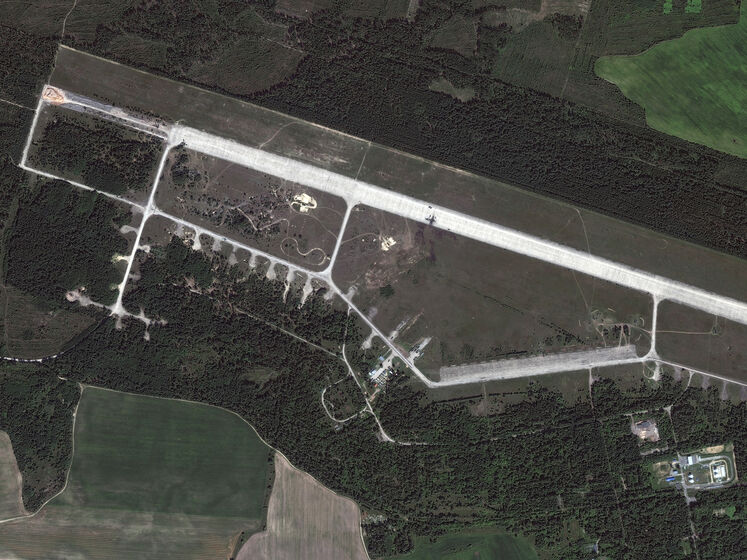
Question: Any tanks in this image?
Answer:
No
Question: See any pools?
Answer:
No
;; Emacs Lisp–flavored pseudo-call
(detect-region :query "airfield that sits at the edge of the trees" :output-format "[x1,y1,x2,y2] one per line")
[20,91,747,400]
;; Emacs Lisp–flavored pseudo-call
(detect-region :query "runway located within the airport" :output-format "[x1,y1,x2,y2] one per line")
[171,125,747,324]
